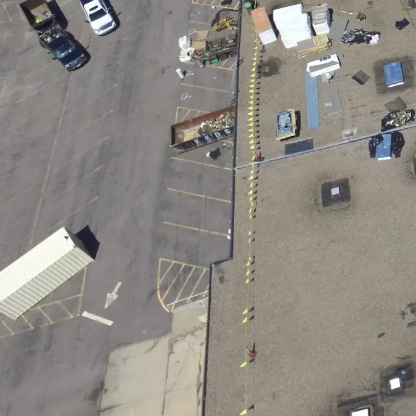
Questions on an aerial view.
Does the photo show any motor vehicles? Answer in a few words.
Yes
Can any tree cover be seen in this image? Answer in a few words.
No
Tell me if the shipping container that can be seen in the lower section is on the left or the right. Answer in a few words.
left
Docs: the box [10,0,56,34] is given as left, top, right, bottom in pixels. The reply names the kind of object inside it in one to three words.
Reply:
trailer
